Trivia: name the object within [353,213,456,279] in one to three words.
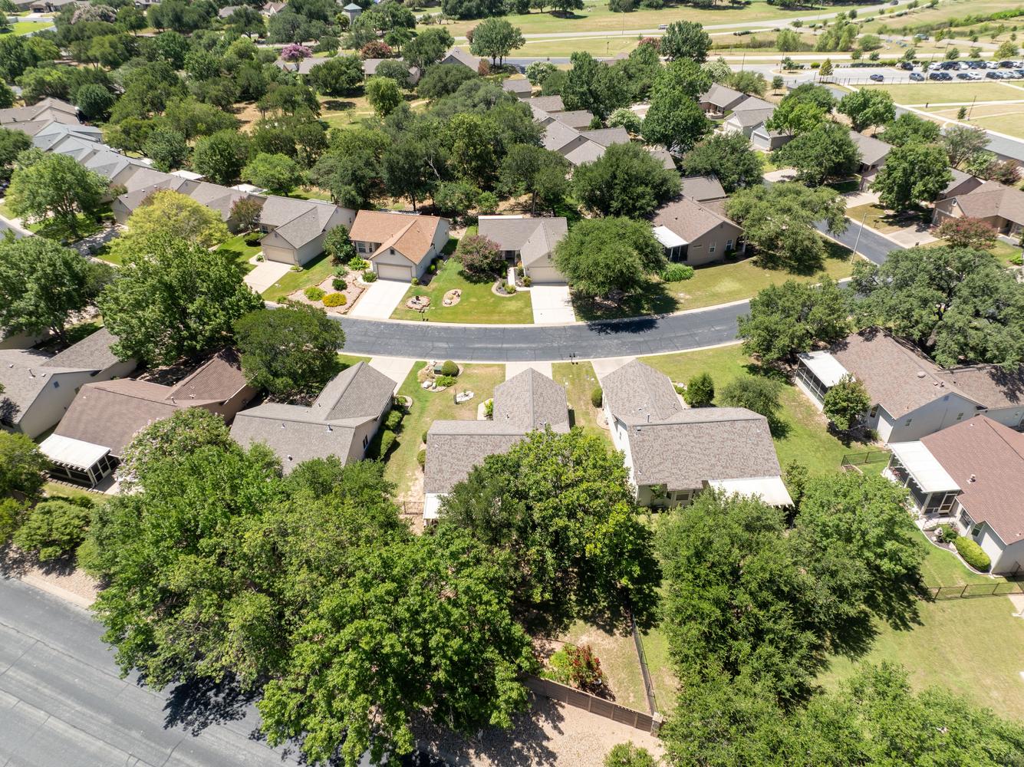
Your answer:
house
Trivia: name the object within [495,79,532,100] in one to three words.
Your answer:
house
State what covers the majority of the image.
trees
